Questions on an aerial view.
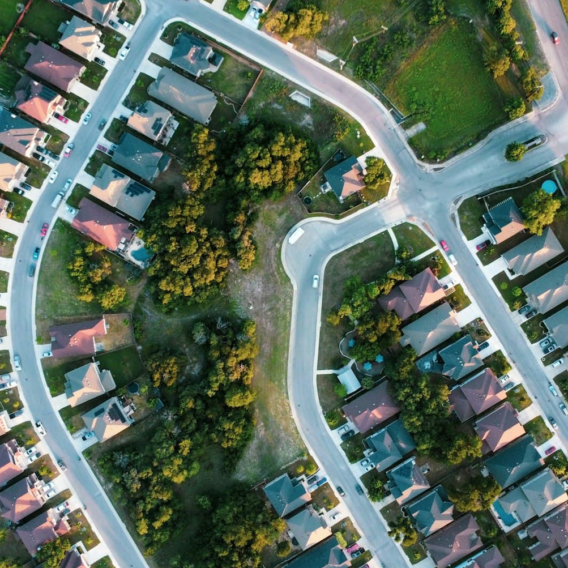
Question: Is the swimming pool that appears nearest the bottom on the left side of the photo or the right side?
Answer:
right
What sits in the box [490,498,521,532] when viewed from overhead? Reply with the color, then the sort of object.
blue swimming pool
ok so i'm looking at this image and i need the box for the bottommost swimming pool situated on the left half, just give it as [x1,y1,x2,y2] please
[128,237,151,270]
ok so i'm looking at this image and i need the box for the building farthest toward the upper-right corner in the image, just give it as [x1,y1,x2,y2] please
[482,195,530,245]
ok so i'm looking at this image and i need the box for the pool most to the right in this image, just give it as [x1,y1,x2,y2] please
[541,178,558,195]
